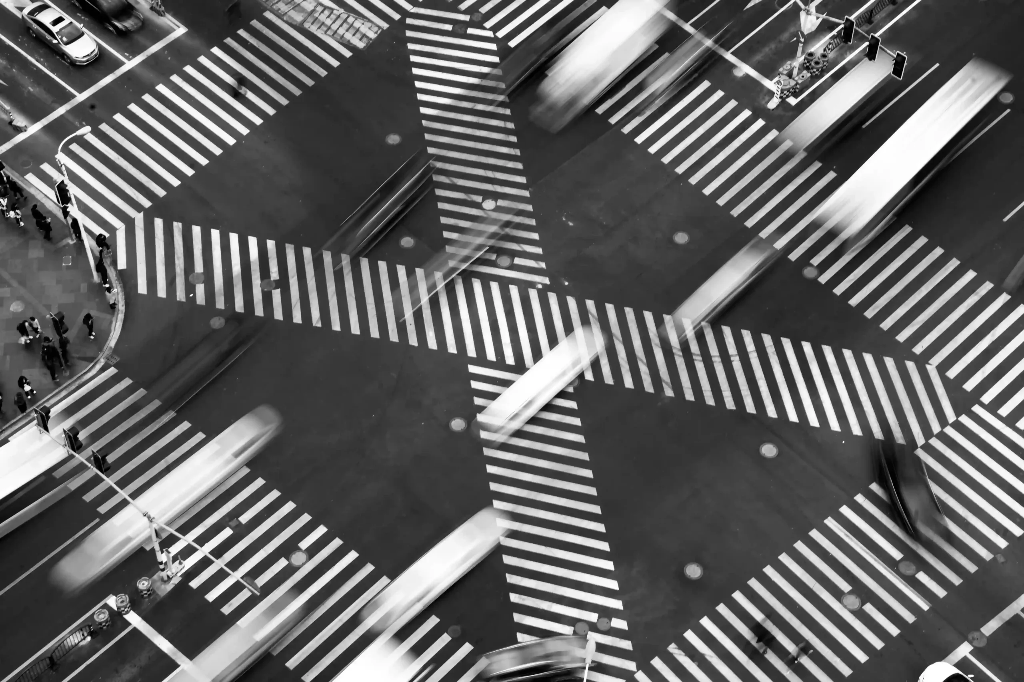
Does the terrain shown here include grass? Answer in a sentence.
No, the scene doesn't show any grass.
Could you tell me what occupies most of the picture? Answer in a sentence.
The largest share of the image is taken up by paved ground.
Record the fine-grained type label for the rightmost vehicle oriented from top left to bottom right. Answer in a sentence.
From above, the rightmost vehicle oriented from top left to bottom right can be identified as an automobile.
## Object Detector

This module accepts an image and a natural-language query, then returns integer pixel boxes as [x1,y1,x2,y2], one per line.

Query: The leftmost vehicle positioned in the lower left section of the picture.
[0,437,88,556]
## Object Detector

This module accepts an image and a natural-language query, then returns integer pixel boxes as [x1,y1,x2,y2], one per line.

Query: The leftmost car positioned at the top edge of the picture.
[18,0,99,66]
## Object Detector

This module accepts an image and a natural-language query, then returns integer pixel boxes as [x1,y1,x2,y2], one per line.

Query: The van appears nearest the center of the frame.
[485,339,584,430]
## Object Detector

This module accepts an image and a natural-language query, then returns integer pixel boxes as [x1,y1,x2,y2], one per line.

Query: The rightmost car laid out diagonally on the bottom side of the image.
[874,438,955,542]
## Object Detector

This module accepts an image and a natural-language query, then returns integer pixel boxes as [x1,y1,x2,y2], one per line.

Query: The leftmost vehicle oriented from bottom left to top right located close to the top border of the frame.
[500,3,577,76]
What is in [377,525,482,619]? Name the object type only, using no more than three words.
car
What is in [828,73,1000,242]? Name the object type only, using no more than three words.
vehicle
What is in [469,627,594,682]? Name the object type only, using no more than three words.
car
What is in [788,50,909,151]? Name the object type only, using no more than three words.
van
